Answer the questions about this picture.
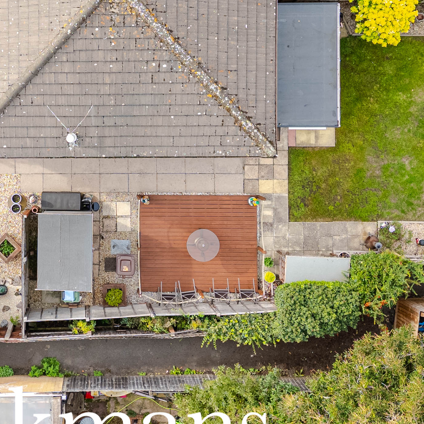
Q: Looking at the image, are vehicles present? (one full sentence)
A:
No, there isn't any vehicle down there.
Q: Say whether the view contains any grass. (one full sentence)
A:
Yes, there's grass in this view.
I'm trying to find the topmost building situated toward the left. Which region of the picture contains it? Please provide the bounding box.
[0,0,285,160]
